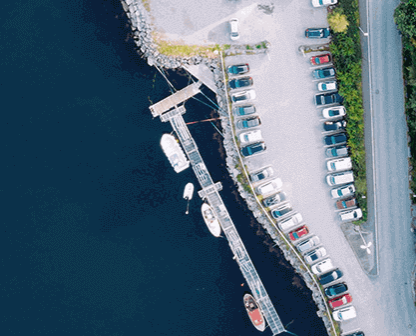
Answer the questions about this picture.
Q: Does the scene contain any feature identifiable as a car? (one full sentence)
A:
Yes, there's a car down there.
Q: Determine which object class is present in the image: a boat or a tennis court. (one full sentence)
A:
It is a boat that can be seen here.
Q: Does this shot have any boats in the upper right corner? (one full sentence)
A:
No, no boat can be made out in the upper right corner.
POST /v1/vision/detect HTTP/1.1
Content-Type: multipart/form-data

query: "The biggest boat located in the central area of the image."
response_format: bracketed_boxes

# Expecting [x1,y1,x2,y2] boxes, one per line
[164,135,190,176]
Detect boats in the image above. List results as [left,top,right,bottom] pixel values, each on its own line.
[241,292,264,334]
[184,184,194,205]
[200,202,220,237]
[164,135,190,176]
